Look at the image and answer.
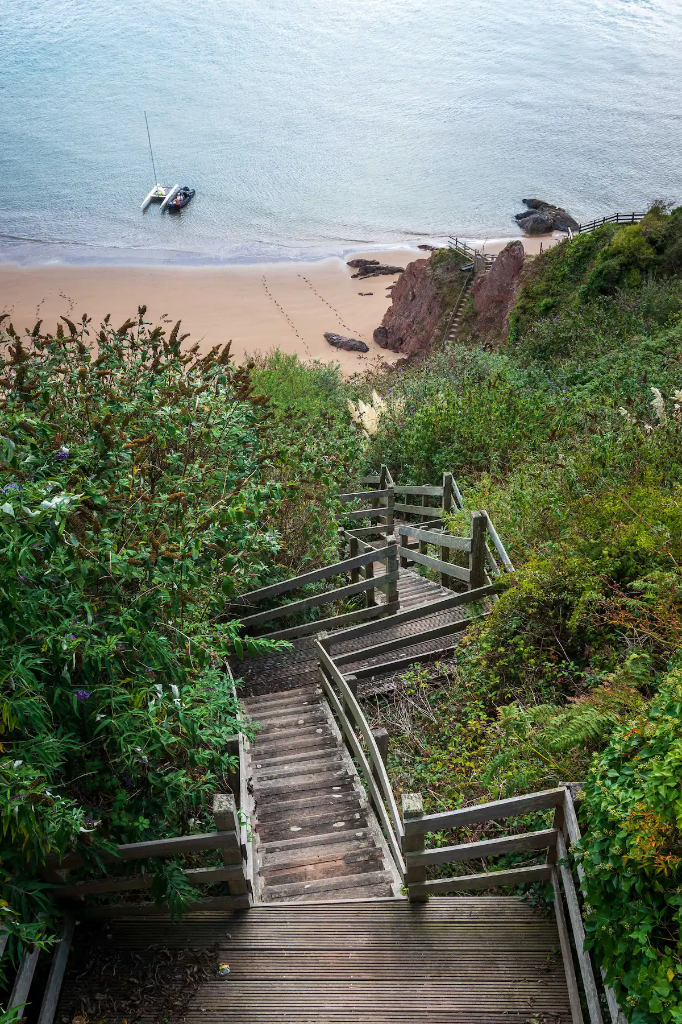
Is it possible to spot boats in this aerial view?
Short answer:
Yes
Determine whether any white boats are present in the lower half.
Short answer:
No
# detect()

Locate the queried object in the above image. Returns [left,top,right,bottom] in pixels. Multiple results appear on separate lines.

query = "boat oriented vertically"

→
[140,106,179,211]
